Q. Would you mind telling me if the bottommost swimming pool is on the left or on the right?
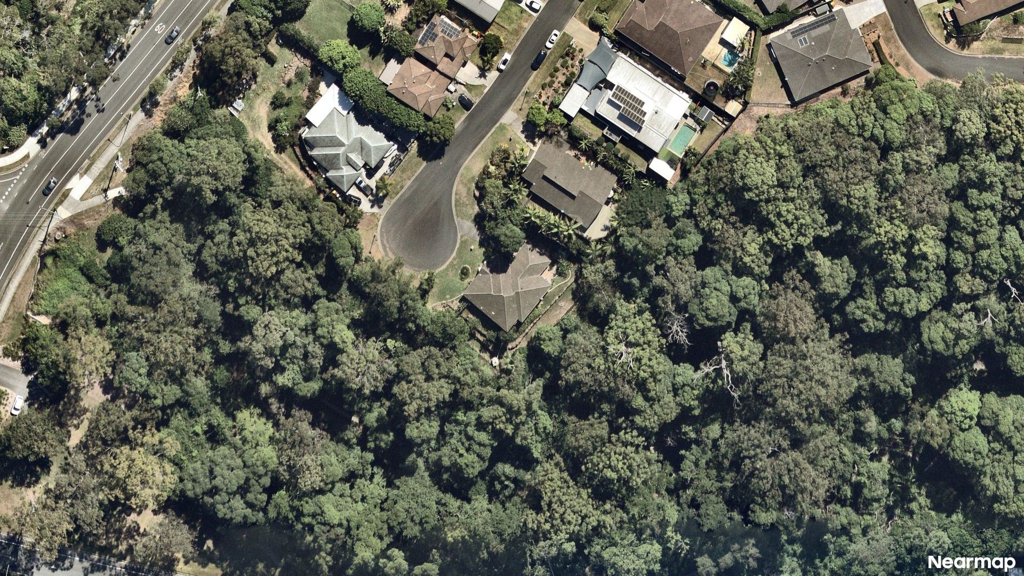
right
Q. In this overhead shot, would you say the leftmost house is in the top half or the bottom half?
top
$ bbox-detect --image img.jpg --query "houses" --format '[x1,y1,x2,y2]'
[559,54,692,153]
[463,242,552,332]
[521,138,618,230]
[456,0,506,24]
[379,58,452,118]
[304,85,394,193]
[615,0,724,77]
[414,15,478,79]
[952,0,1024,27]
[769,8,872,102]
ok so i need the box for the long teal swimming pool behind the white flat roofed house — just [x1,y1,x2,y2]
[667,121,698,156]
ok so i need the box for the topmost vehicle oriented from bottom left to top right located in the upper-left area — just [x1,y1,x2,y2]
[163,25,182,45]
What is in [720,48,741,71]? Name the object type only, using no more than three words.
swimming pool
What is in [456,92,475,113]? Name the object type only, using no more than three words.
car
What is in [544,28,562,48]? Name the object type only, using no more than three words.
car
